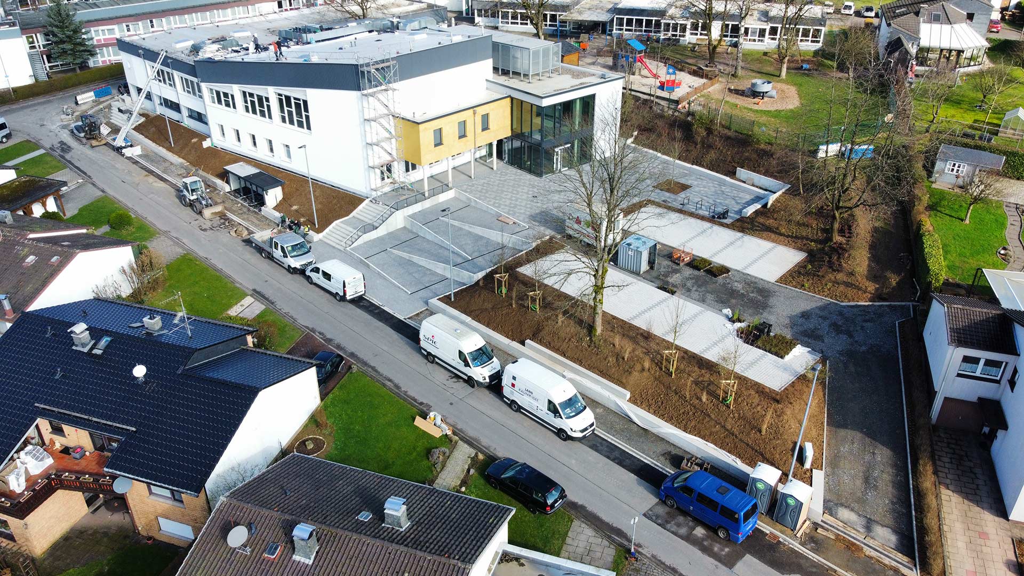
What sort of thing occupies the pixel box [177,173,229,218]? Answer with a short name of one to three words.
work vehicle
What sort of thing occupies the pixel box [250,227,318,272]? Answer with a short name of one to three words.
truck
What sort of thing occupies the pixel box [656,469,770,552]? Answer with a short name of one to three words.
van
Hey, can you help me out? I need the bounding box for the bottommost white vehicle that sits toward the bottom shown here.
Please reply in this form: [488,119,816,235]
[500,354,601,445]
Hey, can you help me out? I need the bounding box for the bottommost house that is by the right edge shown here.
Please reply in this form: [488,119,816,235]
[916,274,1024,527]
